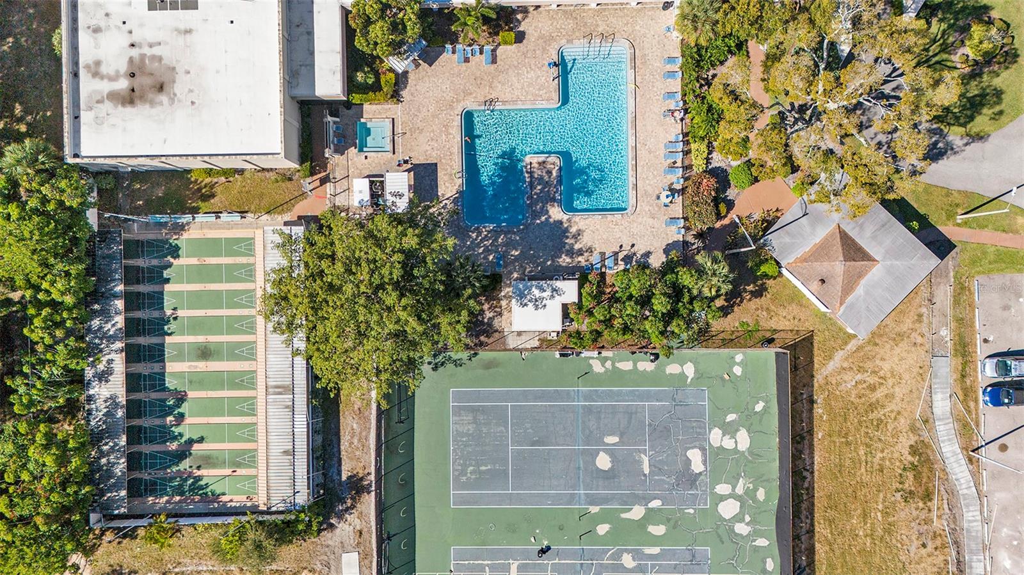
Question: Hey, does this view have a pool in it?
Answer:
Yes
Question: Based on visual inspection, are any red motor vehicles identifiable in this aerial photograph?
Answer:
No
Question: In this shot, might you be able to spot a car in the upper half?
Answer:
No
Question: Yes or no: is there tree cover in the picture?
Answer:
Yes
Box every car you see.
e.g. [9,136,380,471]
[985,386,1024,410]
[985,357,1024,381]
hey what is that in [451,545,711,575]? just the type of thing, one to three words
tennis court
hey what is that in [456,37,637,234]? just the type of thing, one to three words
swimming pool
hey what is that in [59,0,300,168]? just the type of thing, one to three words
building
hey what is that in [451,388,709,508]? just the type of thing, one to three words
tennis court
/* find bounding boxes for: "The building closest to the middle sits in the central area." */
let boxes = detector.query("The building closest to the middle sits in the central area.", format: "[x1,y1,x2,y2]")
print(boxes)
[511,279,579,331]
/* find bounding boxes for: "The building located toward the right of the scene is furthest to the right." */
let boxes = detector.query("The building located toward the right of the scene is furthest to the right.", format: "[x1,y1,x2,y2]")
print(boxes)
[761,166,941,339]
